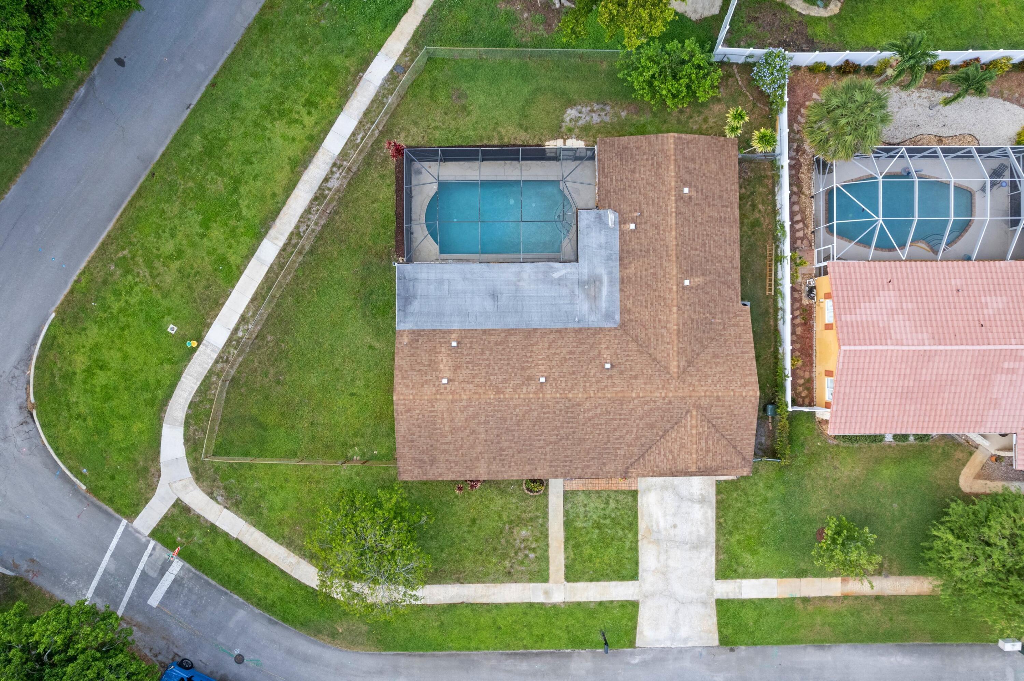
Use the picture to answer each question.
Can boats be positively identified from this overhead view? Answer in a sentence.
No, the frame has no boat in it.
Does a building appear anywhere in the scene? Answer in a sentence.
Yes, the image includes a building.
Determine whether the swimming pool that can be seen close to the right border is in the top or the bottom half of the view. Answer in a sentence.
It is in the top half that the swimming pool that can be seen close to the right border appears.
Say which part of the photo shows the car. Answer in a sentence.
The car sits in the bottom left section of the image.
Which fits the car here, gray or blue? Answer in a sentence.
The car is blue.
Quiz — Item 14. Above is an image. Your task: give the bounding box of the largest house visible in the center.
[393,132,760,481]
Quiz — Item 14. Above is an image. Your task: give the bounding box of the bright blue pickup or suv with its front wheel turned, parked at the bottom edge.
[161,659,216,681]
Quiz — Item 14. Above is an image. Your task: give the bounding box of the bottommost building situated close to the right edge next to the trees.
[816,258,1024,470]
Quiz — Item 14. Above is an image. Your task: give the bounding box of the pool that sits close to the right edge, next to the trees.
[825,171,976,254]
